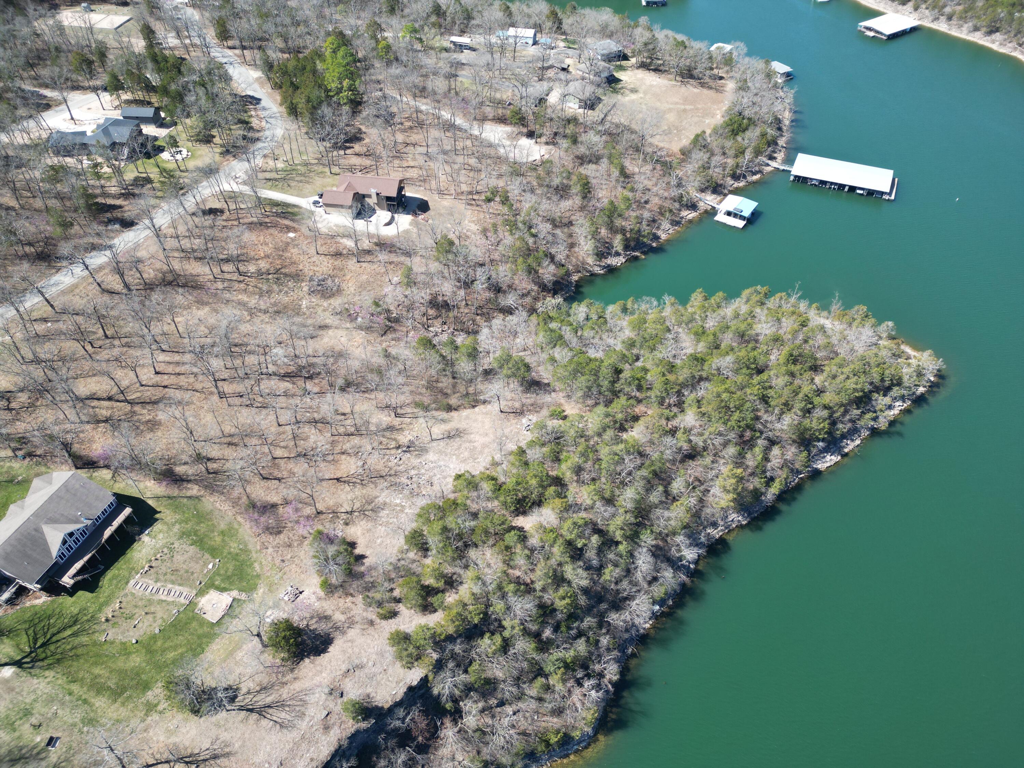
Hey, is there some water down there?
Yes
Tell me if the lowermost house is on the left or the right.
left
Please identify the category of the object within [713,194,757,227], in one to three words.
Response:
pier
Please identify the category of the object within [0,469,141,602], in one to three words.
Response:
house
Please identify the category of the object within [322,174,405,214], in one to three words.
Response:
house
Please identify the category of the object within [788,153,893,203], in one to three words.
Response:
pier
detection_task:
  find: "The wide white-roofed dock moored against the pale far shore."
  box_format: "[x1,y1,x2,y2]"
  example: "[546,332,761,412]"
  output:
[855,13,919,41]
